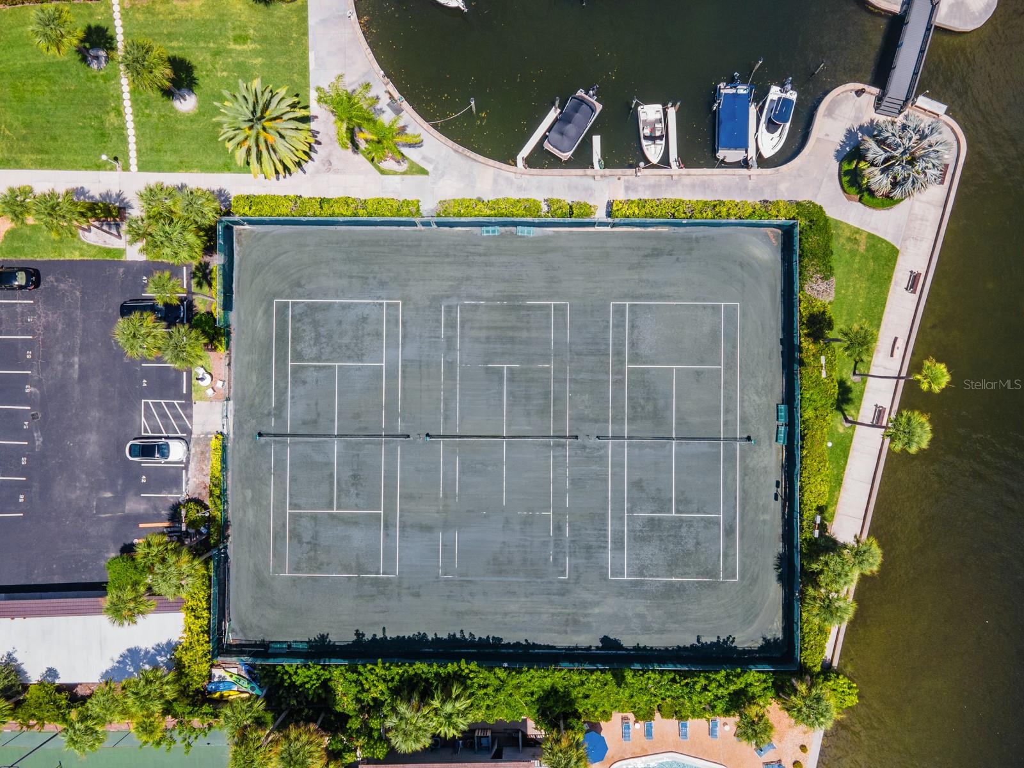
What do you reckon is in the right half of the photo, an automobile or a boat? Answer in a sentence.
What appears in the right half of the photo is a boat.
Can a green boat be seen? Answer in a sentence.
Yes, the frame does contain a green boat.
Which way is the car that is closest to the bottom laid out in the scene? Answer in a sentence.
The car that is closest to the bottom runs from left to right in the image.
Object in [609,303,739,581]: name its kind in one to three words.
tennis court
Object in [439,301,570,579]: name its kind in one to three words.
tennis court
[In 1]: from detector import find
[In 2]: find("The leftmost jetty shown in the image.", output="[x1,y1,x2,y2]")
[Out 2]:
[518,108,560,166]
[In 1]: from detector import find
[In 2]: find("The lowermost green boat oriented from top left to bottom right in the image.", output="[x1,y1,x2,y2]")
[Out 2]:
[222,670,262,696]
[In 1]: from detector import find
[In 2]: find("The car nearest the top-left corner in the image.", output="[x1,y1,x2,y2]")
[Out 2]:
[0,265,43,292]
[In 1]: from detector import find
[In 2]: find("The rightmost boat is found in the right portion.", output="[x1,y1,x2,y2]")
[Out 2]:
[760,77,800,157]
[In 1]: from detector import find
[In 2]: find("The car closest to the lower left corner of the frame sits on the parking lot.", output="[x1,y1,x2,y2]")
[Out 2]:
[127,436,187,463]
